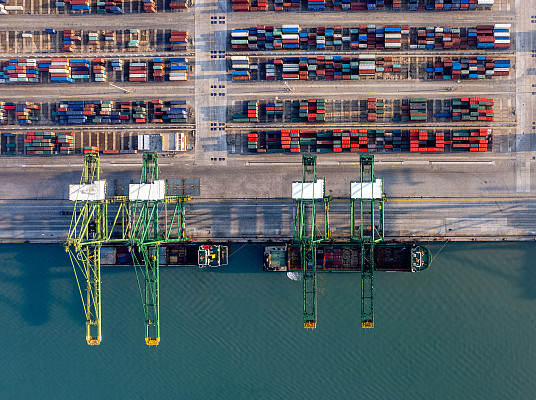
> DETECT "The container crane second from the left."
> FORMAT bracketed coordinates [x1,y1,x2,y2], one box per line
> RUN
[131,157,193,345]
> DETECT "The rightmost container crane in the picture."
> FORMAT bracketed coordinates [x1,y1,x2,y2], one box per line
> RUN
[348,157,387,330]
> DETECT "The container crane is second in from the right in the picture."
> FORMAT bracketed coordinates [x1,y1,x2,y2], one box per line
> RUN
[292,157,334,330]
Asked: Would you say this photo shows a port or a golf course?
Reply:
port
